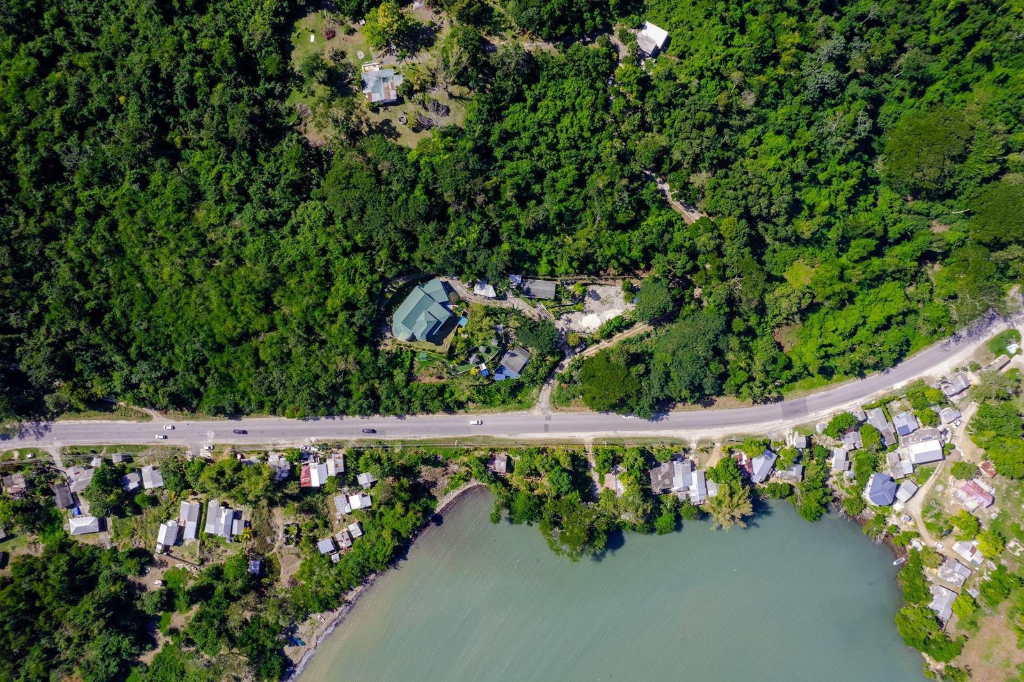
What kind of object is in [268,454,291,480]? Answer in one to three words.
house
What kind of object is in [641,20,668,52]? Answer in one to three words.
house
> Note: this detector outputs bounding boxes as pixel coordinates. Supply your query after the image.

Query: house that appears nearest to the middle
[500,346,529,374]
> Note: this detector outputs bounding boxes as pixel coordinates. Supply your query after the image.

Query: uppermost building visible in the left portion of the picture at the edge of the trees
[362,69,403,104]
